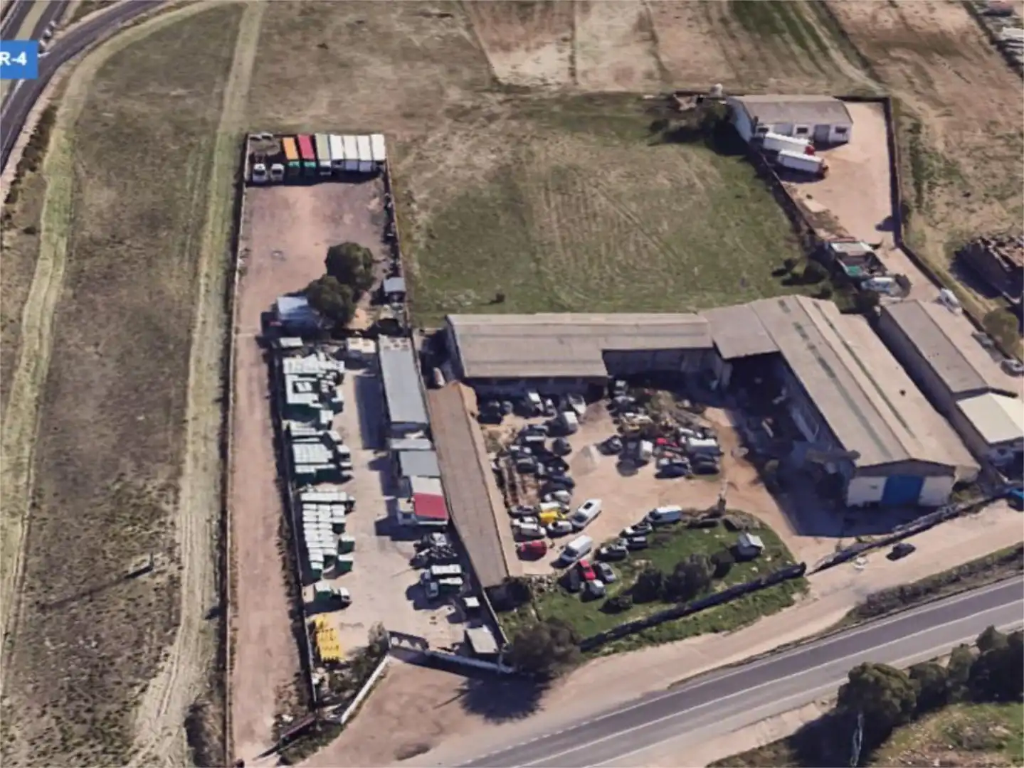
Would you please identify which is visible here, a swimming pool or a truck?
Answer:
truck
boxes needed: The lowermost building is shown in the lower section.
[467,628,497,666]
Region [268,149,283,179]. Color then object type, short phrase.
gray vehicle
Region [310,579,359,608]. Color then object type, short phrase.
white truck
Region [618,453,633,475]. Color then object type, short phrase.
black car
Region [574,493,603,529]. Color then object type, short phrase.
white camper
